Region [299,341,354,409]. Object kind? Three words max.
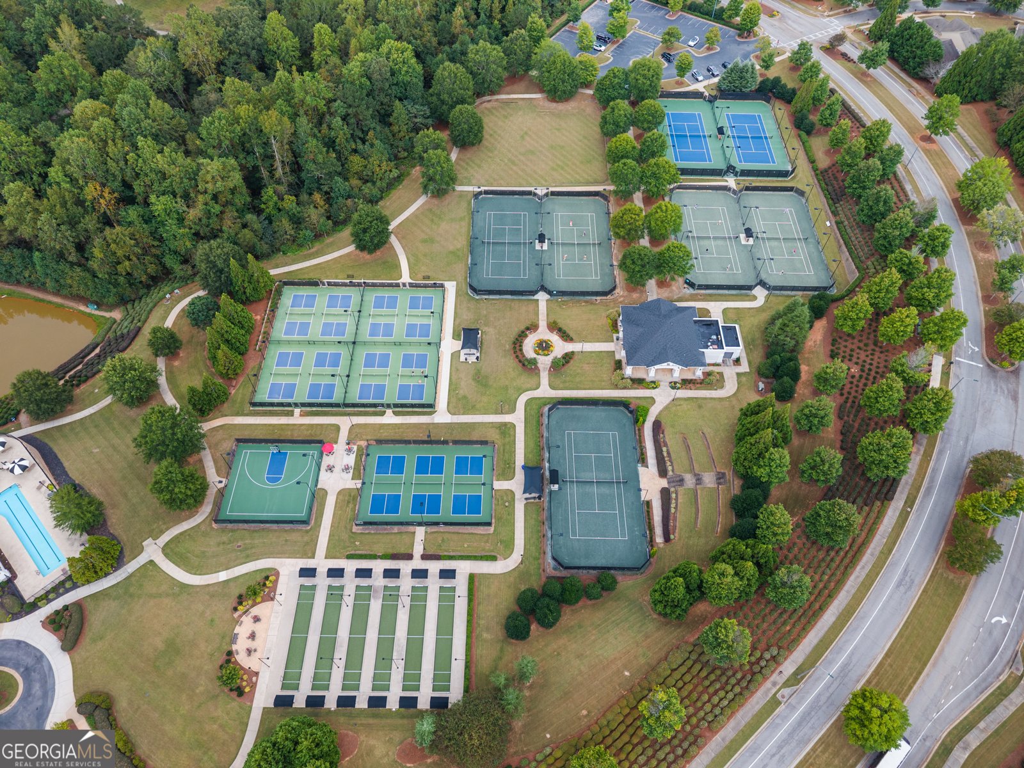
sports court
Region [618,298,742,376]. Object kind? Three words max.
building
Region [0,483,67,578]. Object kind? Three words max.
swimming pool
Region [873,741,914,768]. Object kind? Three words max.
truck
